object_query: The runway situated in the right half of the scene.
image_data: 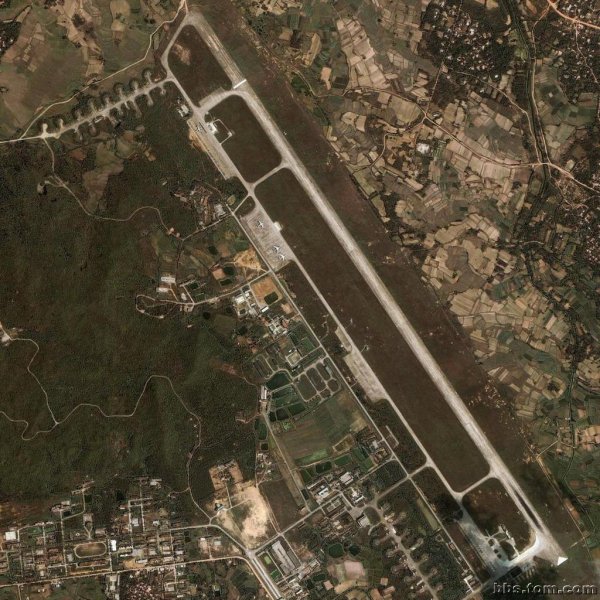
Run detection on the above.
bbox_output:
[233,79,567,570]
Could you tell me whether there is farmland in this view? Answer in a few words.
Yes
